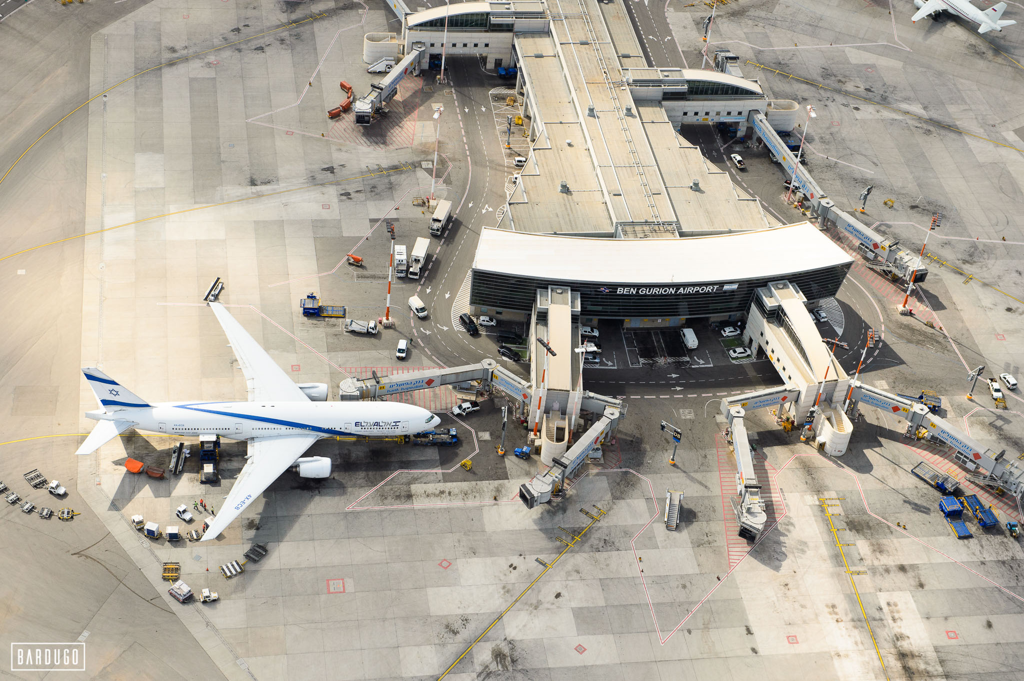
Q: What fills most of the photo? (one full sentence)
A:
For the most part, this view shows paved ground.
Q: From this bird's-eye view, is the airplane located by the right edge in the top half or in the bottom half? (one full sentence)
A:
The airplane located by the right edge is in the top half of the image.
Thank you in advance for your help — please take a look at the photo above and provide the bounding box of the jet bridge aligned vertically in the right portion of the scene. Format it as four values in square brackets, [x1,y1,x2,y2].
[723,384,805,543]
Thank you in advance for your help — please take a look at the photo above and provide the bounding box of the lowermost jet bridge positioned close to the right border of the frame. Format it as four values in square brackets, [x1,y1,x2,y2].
[847,382,1024,504]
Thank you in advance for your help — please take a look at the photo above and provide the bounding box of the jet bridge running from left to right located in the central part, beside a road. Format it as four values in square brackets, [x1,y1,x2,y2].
[340,359,534,418]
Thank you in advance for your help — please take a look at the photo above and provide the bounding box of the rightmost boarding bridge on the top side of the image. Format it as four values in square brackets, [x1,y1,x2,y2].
[743,116,927,286]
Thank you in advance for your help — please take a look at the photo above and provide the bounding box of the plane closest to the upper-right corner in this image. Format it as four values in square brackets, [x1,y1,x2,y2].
[915,0,1015,34]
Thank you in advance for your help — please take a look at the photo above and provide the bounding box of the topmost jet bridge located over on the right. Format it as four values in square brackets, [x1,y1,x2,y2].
[701,48,744,78]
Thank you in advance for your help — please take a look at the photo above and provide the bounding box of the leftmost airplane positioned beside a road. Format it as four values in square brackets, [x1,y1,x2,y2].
[77,302,439,541]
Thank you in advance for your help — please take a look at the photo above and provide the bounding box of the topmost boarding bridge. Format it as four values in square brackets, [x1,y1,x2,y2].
[380,0,409,38]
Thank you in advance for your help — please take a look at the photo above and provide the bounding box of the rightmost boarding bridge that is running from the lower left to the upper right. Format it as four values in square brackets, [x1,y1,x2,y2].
[518,395,622,511]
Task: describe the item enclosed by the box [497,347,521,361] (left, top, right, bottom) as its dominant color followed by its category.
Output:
black car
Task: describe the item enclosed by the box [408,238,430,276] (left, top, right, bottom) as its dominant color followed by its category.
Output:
white truck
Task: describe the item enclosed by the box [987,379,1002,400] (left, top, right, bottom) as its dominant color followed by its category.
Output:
white vehicle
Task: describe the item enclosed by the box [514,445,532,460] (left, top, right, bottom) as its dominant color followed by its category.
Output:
blue work vehicle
